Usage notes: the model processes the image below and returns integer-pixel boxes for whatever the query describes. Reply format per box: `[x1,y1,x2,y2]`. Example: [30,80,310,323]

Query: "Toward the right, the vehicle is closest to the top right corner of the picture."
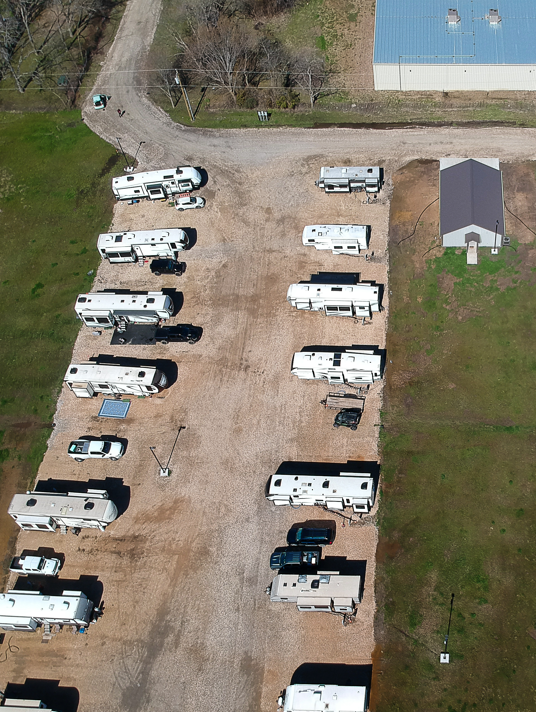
[312,167,383,195]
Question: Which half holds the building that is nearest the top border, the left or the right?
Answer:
right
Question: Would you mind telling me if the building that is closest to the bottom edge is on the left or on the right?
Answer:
right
